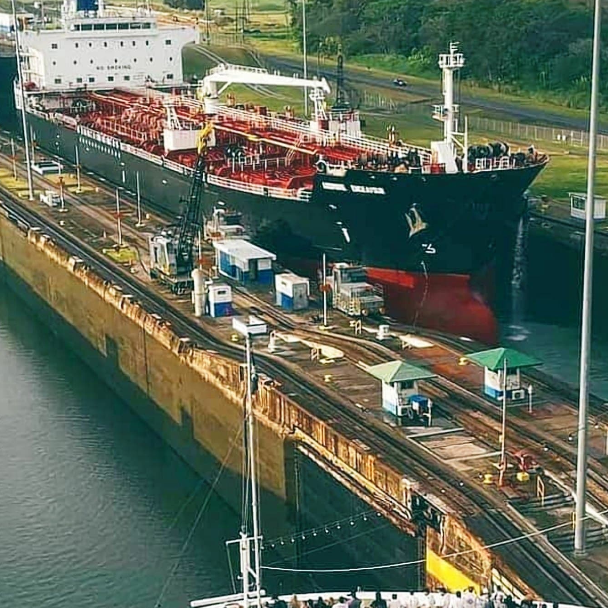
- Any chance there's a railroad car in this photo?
Yes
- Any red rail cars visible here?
No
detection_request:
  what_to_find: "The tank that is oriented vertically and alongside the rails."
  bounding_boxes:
[189,275,208,316]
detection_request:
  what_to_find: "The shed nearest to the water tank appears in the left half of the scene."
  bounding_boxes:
[208,287,233,319]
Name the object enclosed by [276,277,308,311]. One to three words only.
shed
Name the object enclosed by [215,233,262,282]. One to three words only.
shed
